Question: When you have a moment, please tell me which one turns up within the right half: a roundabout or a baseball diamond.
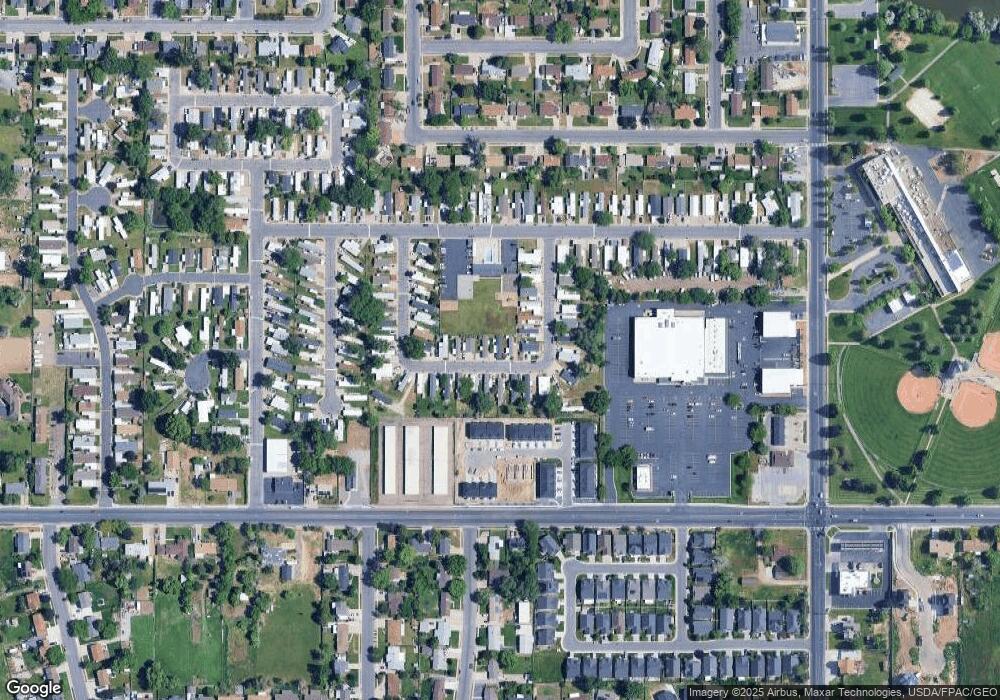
baseball diamond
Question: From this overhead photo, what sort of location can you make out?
residential area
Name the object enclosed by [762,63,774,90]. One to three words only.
house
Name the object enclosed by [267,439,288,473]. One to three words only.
building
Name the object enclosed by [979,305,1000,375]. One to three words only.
baseball field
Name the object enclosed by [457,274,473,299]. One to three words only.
building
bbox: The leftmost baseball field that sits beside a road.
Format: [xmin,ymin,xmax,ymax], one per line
[840,345,946,472]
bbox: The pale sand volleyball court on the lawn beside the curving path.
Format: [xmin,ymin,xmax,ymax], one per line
[906,88,949,128]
